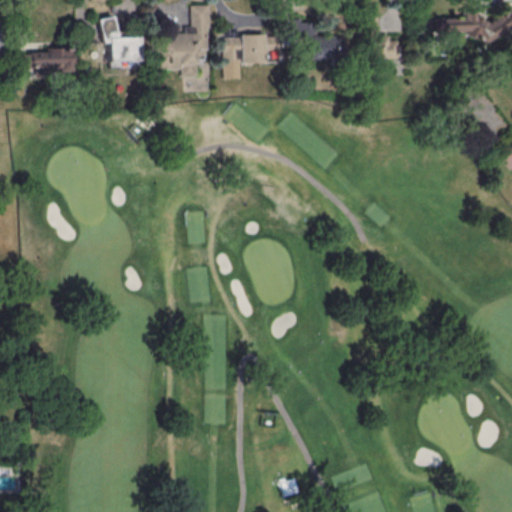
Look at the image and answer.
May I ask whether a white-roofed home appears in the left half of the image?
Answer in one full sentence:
Yes, a white-roofed home can be seen in the left half of the image.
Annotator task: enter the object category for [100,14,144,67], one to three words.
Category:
house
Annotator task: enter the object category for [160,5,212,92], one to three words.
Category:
house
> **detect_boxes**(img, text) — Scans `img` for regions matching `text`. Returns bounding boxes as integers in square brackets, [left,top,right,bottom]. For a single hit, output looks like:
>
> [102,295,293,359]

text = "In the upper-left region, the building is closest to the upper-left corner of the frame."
[30,48,78,74]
